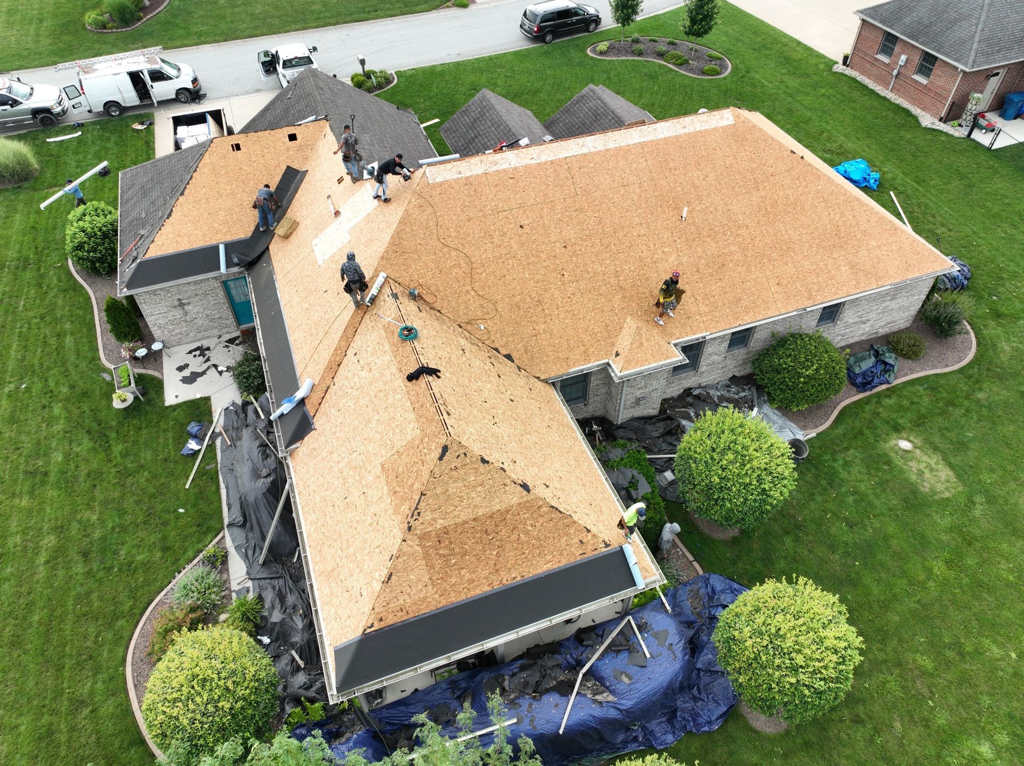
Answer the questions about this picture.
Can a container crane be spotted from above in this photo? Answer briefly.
No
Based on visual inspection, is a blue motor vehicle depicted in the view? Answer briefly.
No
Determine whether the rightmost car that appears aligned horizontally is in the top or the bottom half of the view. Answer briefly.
top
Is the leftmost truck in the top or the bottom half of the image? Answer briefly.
top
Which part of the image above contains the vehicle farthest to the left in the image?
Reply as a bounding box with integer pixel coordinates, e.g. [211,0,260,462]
[0,69,74,128]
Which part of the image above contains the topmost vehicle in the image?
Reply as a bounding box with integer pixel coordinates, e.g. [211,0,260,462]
[518,0,608,41]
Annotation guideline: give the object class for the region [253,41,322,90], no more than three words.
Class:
truck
